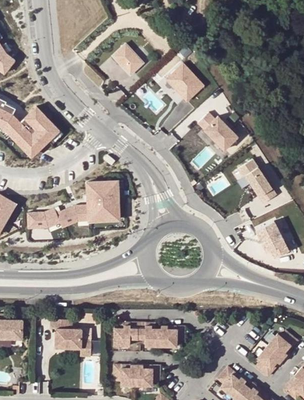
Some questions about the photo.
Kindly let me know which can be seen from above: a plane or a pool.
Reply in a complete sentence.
This aerial view contains a pool.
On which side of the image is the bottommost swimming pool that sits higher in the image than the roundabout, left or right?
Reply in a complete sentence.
The bottommost swimming pool that sits higher in the image than the roundabout is on the right side of the image.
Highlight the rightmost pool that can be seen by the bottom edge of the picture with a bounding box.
[80,358,100,390]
